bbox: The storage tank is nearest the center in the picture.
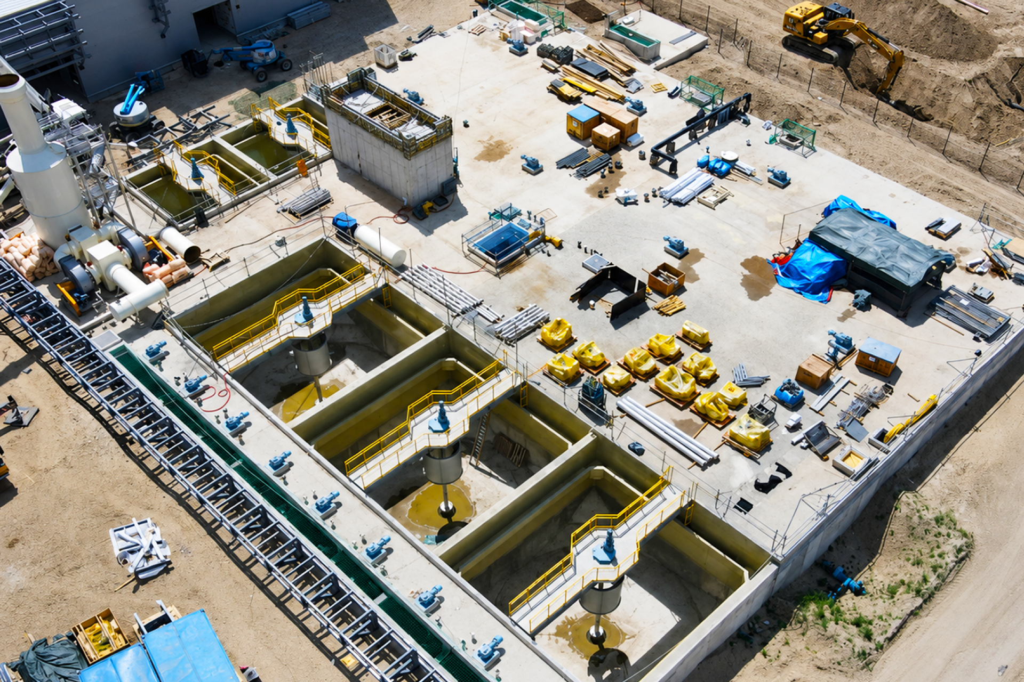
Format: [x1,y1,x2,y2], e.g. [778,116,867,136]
[464,206,548,277]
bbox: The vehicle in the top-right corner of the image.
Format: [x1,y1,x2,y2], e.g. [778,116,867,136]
[778,0,910,96]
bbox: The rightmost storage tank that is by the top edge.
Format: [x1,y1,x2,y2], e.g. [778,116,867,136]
[604,23,660,63]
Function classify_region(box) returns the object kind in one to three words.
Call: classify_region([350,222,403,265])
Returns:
storage tank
